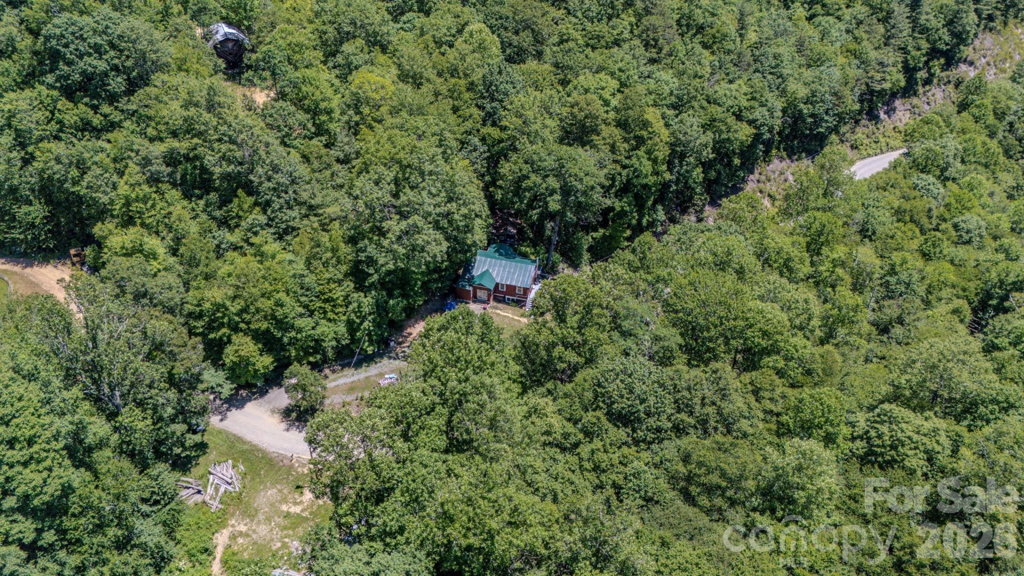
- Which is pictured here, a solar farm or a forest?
forest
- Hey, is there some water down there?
No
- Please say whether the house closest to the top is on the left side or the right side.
left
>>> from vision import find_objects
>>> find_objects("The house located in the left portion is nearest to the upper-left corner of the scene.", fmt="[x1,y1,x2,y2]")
[201,20,250,72]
